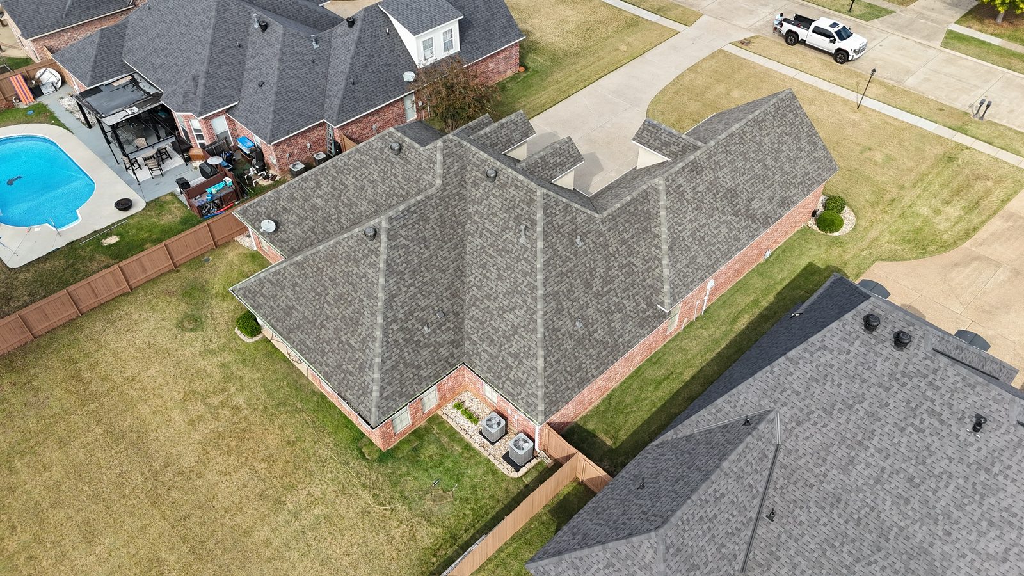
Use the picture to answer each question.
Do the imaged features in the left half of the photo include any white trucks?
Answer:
No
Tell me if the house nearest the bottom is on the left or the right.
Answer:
right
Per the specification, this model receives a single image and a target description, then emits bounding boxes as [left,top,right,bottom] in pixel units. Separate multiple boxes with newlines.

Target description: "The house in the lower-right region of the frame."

[524,277,1024,576]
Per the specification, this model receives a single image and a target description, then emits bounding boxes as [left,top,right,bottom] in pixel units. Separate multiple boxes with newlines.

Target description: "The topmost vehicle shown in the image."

[781,15,871,64]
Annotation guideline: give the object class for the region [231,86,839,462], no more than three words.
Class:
house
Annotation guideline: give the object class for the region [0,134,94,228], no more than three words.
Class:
swimming pool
